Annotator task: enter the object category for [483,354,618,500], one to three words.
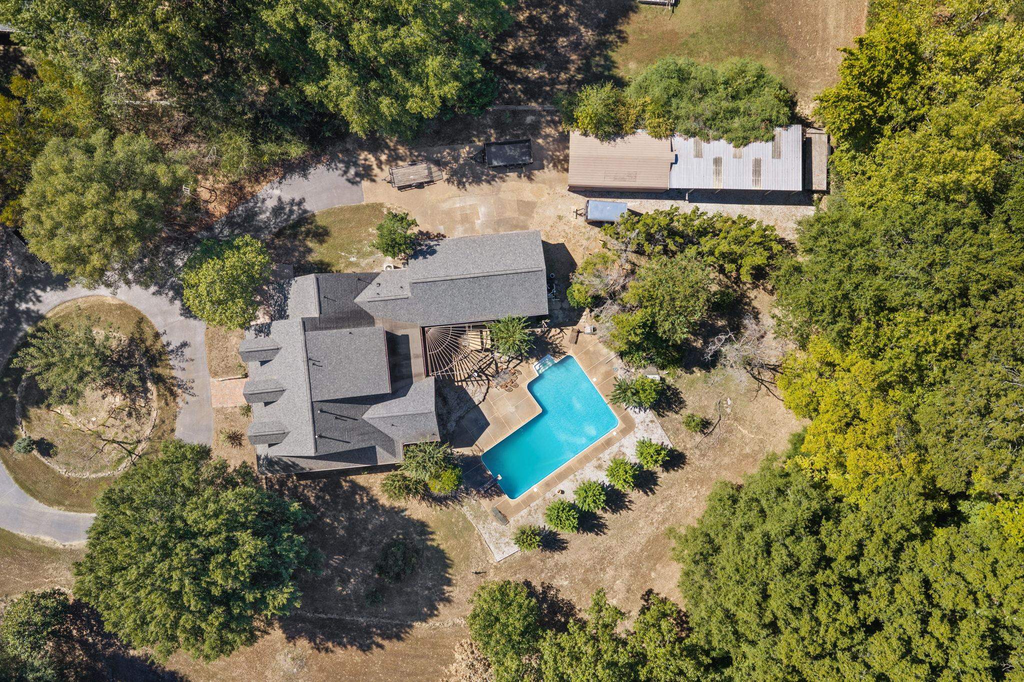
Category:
swimming pool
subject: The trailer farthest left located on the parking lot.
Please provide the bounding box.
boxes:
[380,160,444,191]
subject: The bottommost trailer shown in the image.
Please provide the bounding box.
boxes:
[569,201,627,228]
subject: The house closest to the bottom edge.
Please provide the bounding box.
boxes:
[240,229,548,475]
